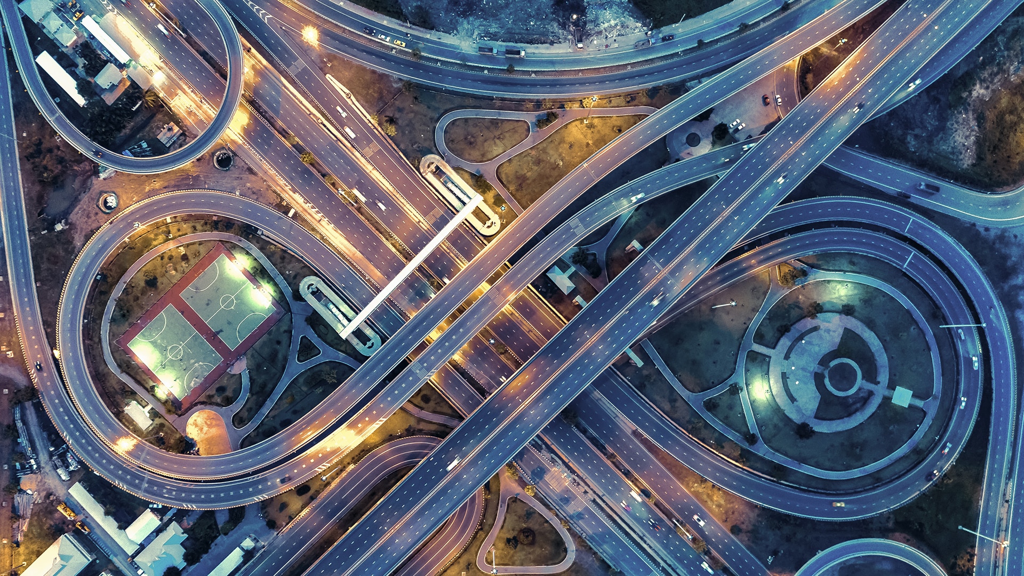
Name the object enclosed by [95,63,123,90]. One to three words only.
house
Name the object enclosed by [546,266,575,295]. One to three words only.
building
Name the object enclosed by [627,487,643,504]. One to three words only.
vehicle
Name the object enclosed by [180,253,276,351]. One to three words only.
sports court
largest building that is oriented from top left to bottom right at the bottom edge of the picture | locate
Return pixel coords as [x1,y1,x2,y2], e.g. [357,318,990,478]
[68,481,142,556]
